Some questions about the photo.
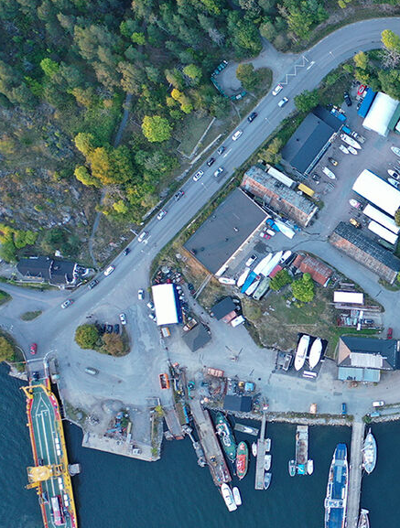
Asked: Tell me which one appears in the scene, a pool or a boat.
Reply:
boat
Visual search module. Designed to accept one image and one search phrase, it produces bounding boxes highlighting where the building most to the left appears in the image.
[16,256,59,295]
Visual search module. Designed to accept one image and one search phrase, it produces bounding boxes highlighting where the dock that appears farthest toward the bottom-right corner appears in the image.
[345,419,365,528]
